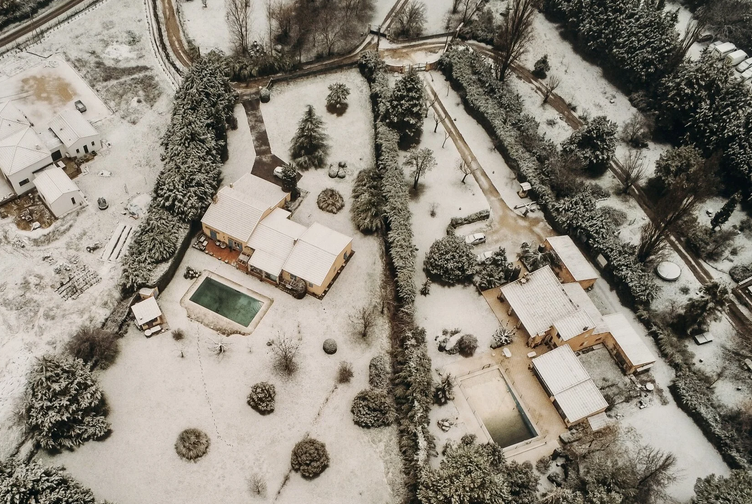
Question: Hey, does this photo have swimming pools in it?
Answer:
Yes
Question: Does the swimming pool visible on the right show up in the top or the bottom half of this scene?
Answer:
bottom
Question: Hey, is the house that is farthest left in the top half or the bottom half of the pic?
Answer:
top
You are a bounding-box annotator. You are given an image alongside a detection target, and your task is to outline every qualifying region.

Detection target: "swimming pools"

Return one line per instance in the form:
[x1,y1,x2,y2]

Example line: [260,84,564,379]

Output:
[183,272,270,331]
[455,362,545,452]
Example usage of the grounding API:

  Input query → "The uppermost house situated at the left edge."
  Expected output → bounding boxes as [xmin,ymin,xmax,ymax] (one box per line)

[0,100,100,215]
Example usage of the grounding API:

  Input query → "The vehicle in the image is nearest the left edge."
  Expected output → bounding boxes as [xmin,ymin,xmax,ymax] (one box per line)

[73,99,88,113]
